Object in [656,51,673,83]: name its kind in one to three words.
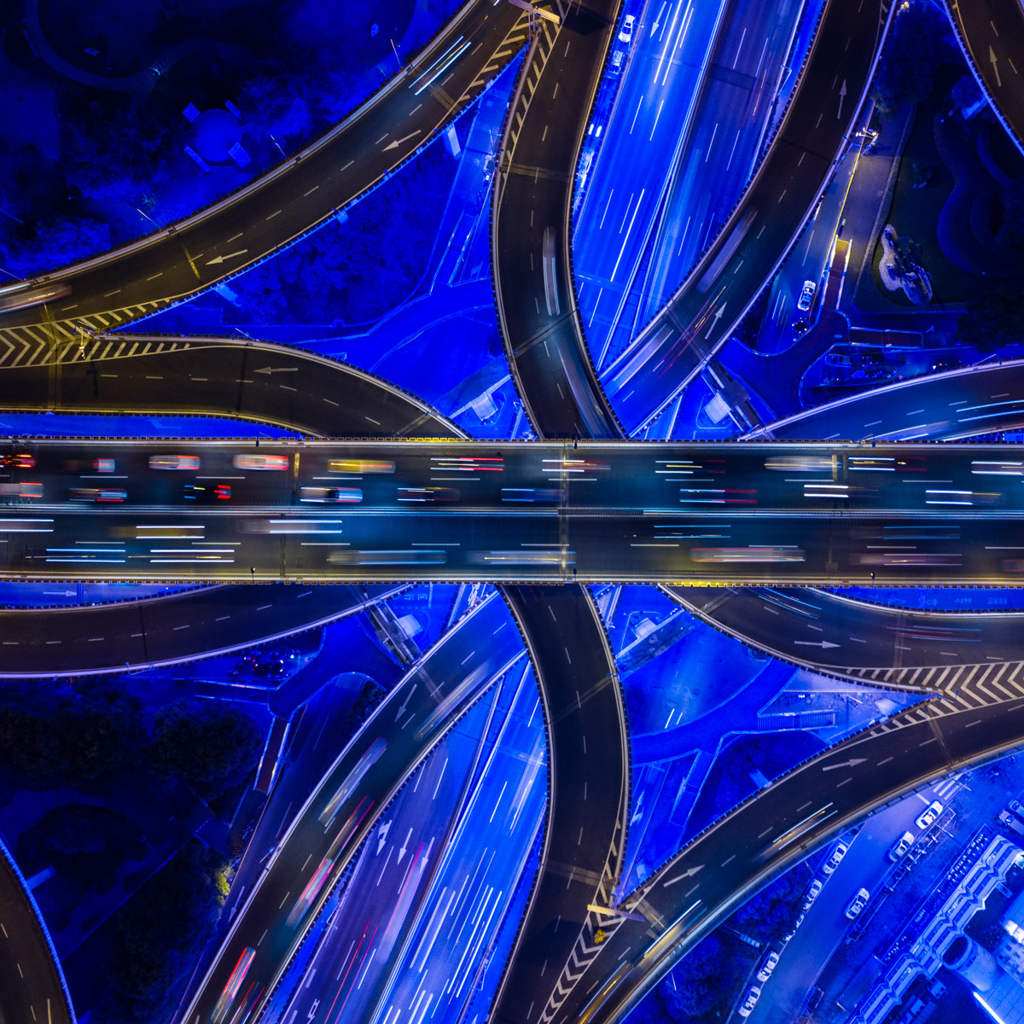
car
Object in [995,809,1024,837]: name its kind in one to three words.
vehicle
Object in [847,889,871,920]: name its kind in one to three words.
car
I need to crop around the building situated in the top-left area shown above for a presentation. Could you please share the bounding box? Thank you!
[179,96,250,169]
